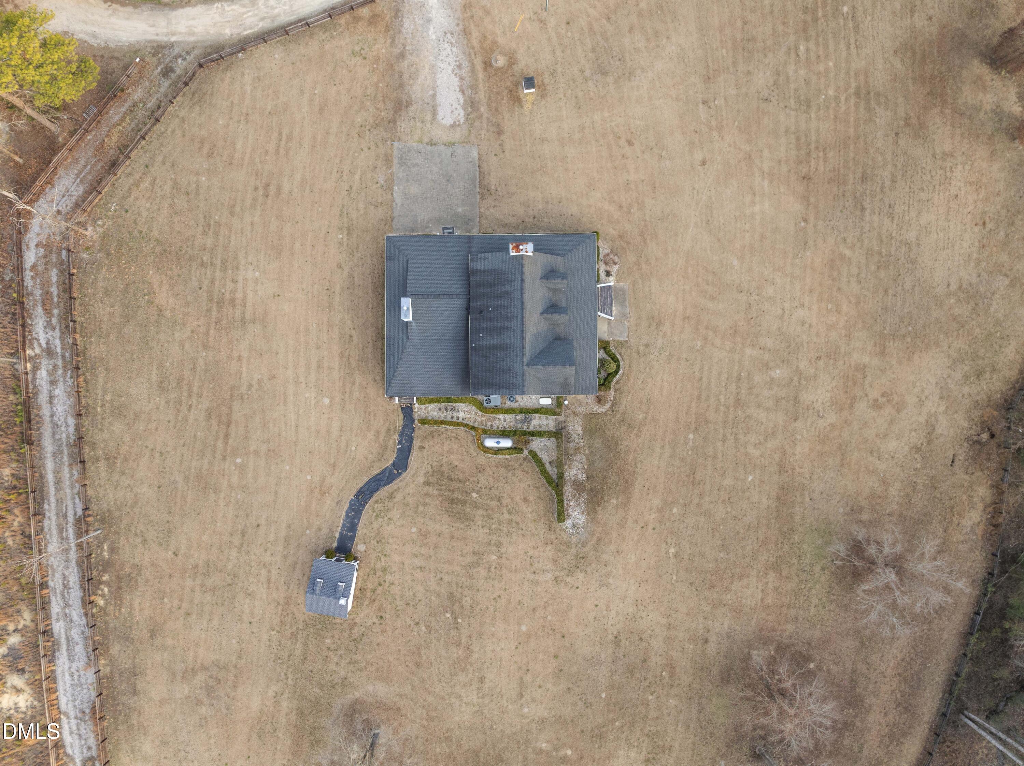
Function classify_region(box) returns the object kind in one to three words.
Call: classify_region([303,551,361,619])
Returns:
house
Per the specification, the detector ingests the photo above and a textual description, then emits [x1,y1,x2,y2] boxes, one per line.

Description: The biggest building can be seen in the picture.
[385,233,597,397]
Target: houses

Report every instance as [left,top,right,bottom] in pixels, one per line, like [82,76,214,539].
[303,551,361,619]
[385,233,597,397]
